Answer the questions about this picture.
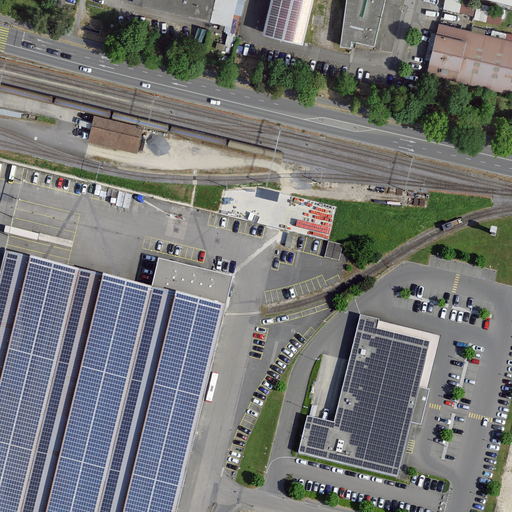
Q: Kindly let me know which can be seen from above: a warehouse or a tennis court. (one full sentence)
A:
Looking from above, you can make out a warehouse.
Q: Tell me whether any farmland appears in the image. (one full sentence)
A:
No, there's no farmland in this view.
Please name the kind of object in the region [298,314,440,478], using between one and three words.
warehouse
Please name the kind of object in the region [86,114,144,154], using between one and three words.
shed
